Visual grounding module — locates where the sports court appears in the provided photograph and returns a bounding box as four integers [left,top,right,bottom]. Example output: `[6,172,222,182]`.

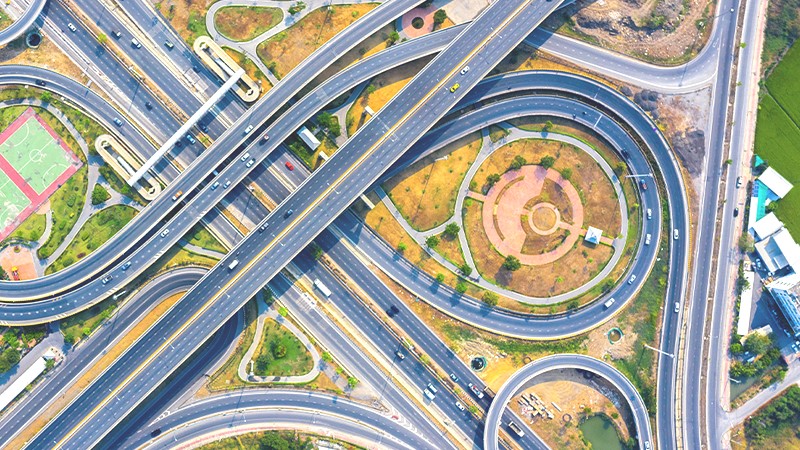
[0,107,84,241]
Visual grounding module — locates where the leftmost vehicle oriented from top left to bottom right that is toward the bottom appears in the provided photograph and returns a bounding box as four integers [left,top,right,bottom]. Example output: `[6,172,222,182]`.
[314,281,332,298]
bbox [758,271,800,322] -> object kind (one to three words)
building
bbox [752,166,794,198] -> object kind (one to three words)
building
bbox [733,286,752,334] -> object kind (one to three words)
shed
